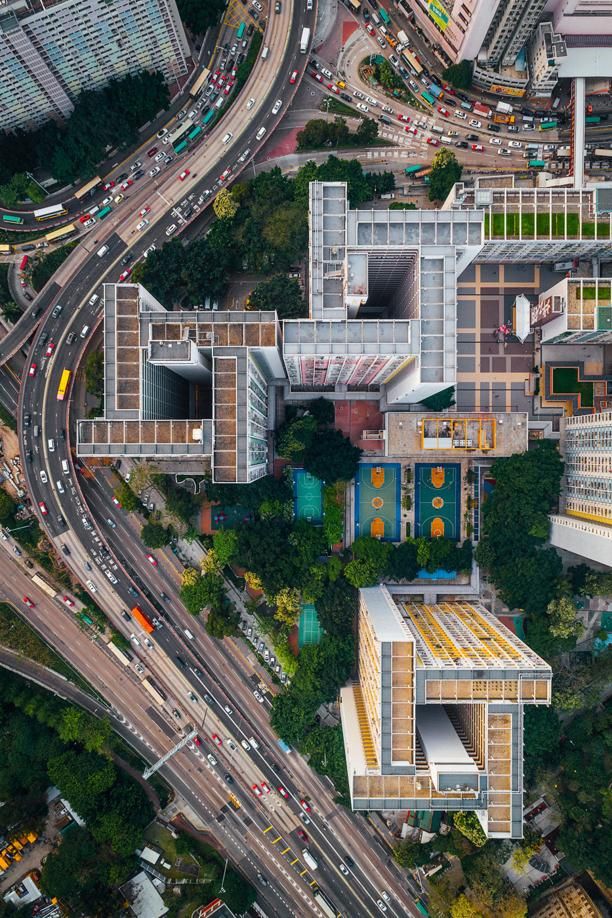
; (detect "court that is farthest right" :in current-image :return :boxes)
[415,463,461,541]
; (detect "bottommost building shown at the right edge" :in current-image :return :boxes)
[521,867,603,918]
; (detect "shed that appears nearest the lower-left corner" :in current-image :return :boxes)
[4,870,47,910]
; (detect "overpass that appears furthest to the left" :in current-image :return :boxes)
[15,0,403,918]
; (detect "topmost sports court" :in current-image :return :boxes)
[334,400,383,456]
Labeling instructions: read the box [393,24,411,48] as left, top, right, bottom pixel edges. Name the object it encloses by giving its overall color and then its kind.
white vehicle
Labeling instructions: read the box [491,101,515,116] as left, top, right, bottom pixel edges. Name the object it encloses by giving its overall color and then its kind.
white vehicle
